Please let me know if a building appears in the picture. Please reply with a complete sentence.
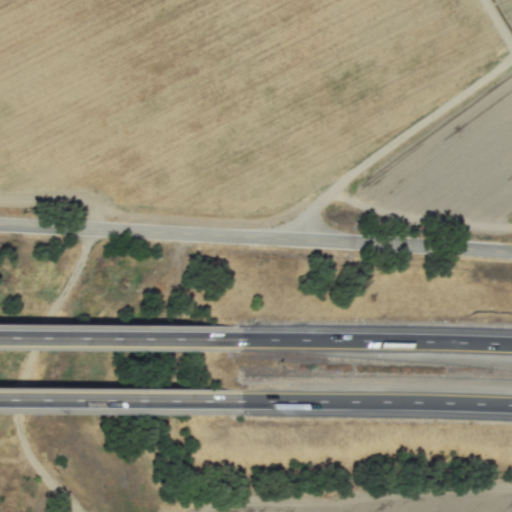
No, there appears to be no building in this shot.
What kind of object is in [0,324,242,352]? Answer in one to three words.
bridge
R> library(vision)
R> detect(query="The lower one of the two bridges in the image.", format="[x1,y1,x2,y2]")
[0,388,242,416]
